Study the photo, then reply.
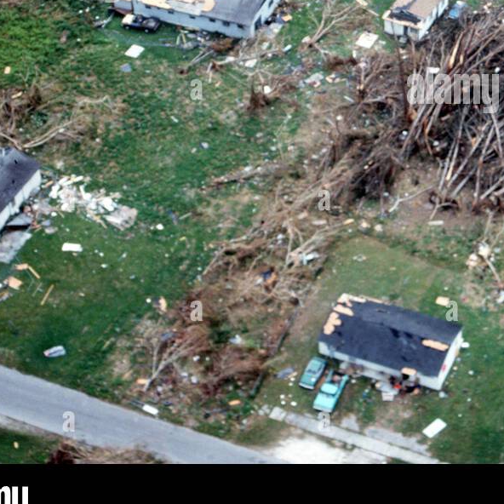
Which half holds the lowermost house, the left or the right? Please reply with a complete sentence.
You can find the lowermost house on the right side of the picture.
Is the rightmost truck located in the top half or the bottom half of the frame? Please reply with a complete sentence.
It is in the bottom half that the rightmost truck appears.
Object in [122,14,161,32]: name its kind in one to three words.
vehicle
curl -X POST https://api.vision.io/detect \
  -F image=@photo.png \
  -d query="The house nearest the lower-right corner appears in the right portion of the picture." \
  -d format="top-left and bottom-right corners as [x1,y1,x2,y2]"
[319,293,461,390]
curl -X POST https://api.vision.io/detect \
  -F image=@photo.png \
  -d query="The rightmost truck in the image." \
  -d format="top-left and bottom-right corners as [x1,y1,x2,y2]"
[316,363,355,413]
